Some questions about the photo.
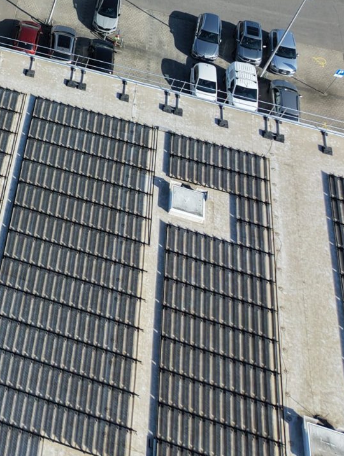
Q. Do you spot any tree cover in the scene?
No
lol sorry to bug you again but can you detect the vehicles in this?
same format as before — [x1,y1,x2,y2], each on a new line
[188,62,221,101]
[12,14,43,55]
[266,79,303,123]
[45,20,78,64]
[190,18,223,67]
[92,0,123,38]
[86,37,118,75]
[232,24,266,70]
[226,62,262,111]
[266,32,302,84]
